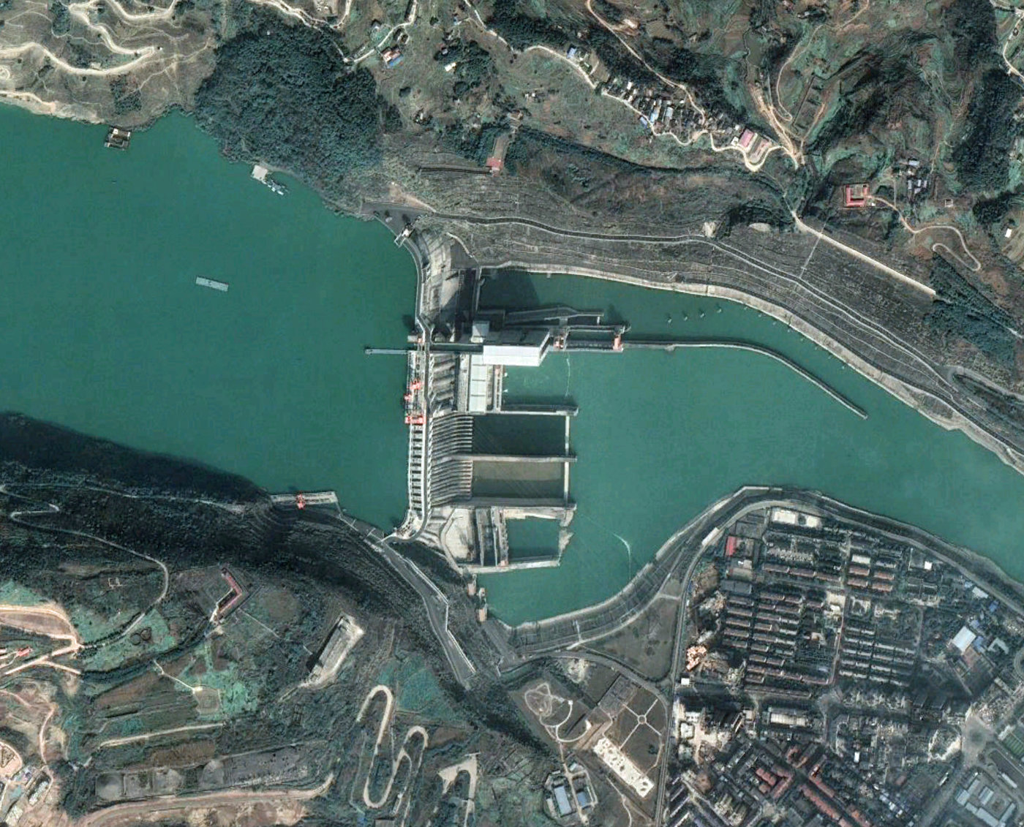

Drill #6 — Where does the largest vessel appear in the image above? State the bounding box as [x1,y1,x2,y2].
[196,277,228,291]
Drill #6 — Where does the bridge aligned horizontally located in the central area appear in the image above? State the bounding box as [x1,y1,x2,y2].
[432,334,486,354]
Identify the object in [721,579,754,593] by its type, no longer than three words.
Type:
building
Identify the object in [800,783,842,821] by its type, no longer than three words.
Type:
building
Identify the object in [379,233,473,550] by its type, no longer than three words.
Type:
dam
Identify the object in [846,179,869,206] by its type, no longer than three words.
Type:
house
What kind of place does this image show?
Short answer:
port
